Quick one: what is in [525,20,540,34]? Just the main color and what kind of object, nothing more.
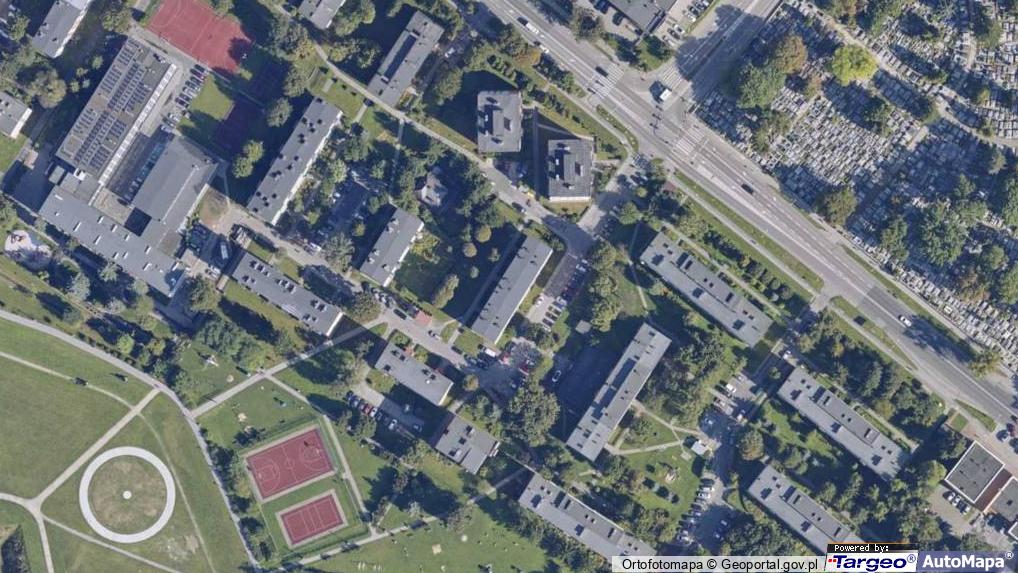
white vehicle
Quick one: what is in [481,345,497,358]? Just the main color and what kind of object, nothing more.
white vehicle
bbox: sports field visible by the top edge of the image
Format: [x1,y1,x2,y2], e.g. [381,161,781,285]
[148,0,257,73]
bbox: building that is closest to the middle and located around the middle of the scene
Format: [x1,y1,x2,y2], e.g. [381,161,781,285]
[470,234,552,347]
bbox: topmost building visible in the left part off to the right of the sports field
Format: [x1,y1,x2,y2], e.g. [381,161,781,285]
[296,0,344,32]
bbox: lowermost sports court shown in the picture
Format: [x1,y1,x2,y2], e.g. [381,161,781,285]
[275,488,349,550]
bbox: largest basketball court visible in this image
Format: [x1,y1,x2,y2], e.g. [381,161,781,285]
[242,425,338,503]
